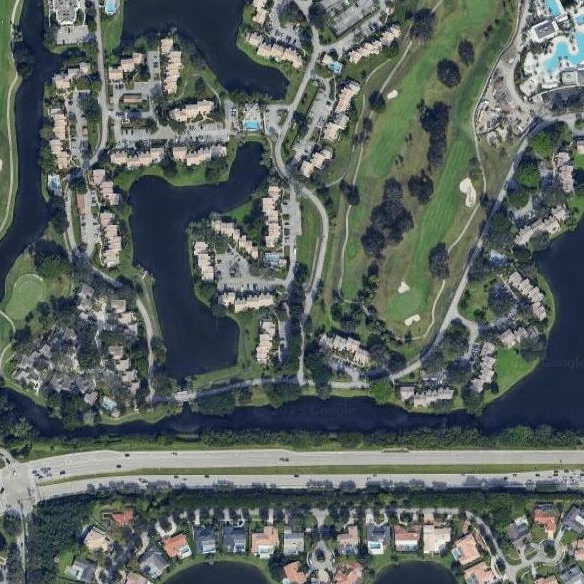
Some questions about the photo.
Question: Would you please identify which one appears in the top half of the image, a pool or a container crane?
pool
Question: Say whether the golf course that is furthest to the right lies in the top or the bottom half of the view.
top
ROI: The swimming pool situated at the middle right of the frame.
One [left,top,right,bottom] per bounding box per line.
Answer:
[489,250,509,264]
